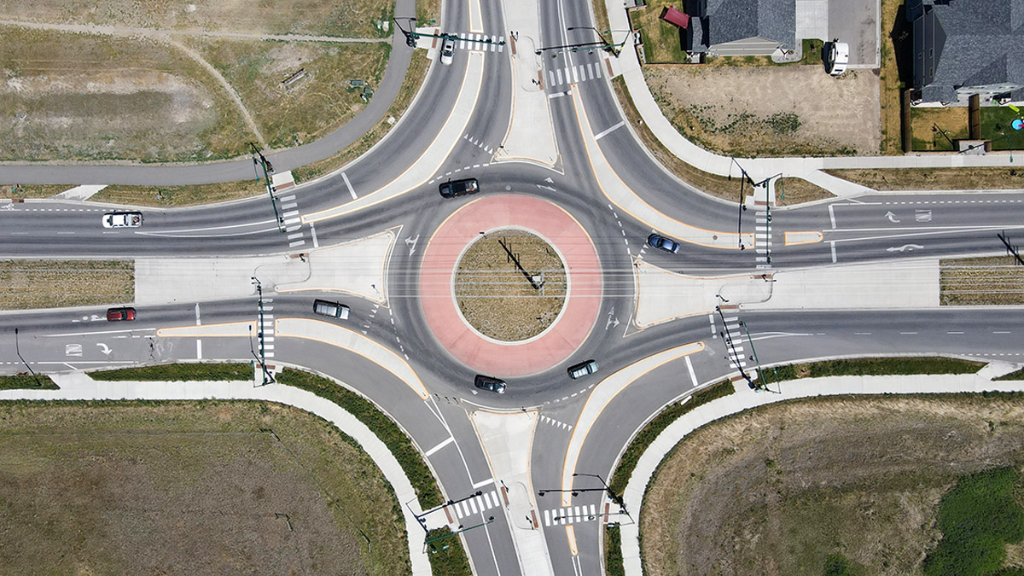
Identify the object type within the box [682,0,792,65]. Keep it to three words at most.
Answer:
house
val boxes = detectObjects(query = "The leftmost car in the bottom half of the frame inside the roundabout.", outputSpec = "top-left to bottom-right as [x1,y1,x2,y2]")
[475,376,508,394]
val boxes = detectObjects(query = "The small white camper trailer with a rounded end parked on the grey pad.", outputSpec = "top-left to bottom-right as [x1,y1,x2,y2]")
[826,41,850,78]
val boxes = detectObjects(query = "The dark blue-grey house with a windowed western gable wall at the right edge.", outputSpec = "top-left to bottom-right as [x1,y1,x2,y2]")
[901,0,1024,106]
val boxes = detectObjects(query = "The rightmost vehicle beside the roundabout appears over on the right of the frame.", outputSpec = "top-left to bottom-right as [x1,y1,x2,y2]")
[647,235,681,254]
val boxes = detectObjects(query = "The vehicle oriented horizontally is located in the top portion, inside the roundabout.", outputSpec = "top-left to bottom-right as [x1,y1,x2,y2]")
[440,178,480,198]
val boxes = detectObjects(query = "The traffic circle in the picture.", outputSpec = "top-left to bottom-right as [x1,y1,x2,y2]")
[386,160,637,411]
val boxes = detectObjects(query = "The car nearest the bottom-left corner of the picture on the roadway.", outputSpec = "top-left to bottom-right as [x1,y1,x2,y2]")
[105,308,138,323]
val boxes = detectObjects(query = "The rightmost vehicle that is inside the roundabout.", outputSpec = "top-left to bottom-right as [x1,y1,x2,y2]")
[567,360,600,380]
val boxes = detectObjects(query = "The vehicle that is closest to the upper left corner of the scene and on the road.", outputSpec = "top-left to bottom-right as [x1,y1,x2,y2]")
[102,212,144,228]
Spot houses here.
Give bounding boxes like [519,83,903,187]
[682,0,792,65]
[901,0,1024,106]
